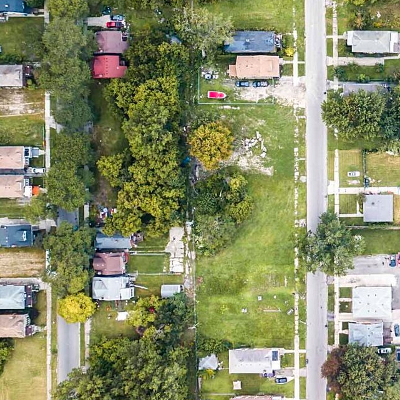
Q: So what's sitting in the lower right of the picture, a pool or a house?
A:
house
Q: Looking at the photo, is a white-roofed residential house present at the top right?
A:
Yes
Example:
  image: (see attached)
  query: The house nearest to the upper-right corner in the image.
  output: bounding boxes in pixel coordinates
[347,30,398,53]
